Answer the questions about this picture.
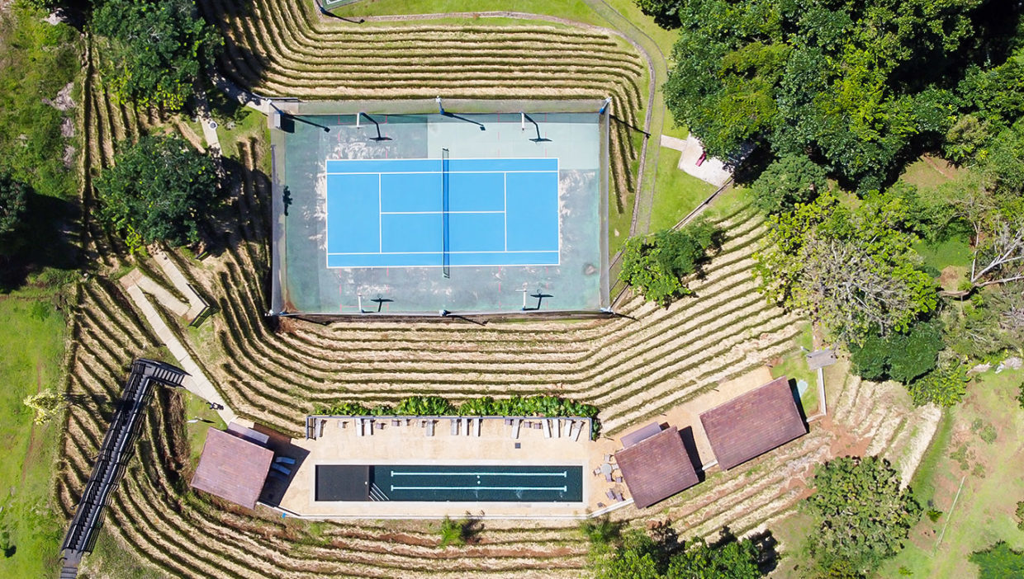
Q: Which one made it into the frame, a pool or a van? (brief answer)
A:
pool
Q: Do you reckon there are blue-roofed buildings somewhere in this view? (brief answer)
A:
No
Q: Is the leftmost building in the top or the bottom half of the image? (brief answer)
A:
bottom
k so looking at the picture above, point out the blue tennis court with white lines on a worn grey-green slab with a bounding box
[284,112,602,312]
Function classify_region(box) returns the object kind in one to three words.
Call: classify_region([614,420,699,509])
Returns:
building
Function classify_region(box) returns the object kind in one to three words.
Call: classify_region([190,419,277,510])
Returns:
building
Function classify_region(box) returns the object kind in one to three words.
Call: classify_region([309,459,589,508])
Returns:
swimming pool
